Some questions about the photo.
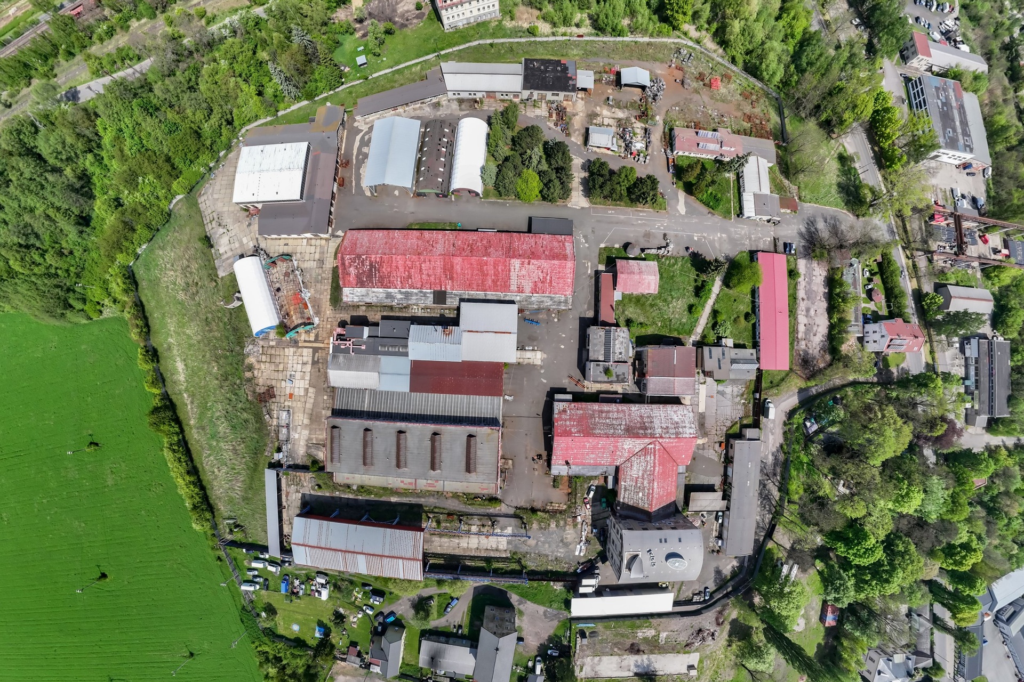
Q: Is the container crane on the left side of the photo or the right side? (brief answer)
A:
right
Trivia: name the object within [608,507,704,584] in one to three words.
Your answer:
building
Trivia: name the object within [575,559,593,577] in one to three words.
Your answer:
vehicle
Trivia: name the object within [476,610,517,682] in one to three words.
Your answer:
house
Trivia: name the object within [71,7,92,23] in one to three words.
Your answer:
rail car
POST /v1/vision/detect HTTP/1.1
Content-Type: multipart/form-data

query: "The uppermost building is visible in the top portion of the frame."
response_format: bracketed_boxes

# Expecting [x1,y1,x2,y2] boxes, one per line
[437,0,499,32]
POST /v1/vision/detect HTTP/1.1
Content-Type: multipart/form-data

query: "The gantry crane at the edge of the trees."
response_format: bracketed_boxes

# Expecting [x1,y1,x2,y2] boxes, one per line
[904,207,1024,271]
